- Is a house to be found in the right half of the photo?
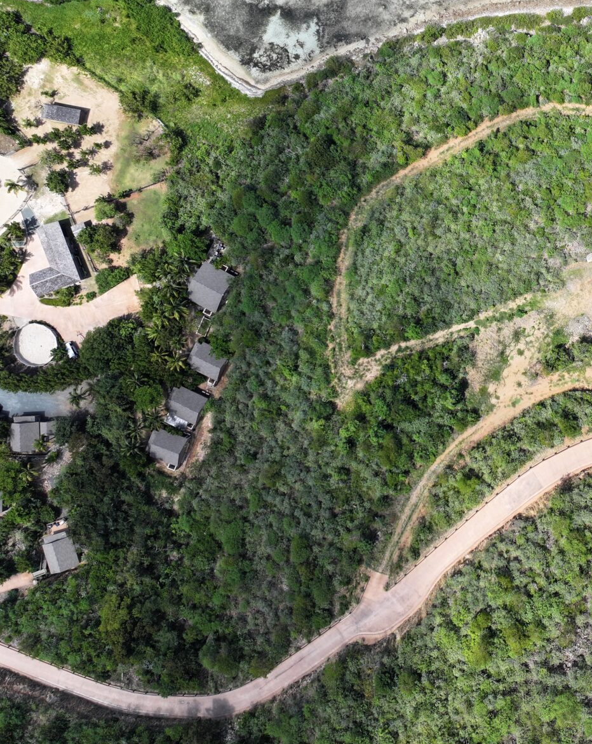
No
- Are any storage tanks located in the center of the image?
No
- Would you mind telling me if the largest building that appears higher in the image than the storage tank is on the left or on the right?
left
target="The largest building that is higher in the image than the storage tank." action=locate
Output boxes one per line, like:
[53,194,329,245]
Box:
[29,222,86,297]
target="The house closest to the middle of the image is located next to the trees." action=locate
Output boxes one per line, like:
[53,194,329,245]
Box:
[187,342,229,382]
